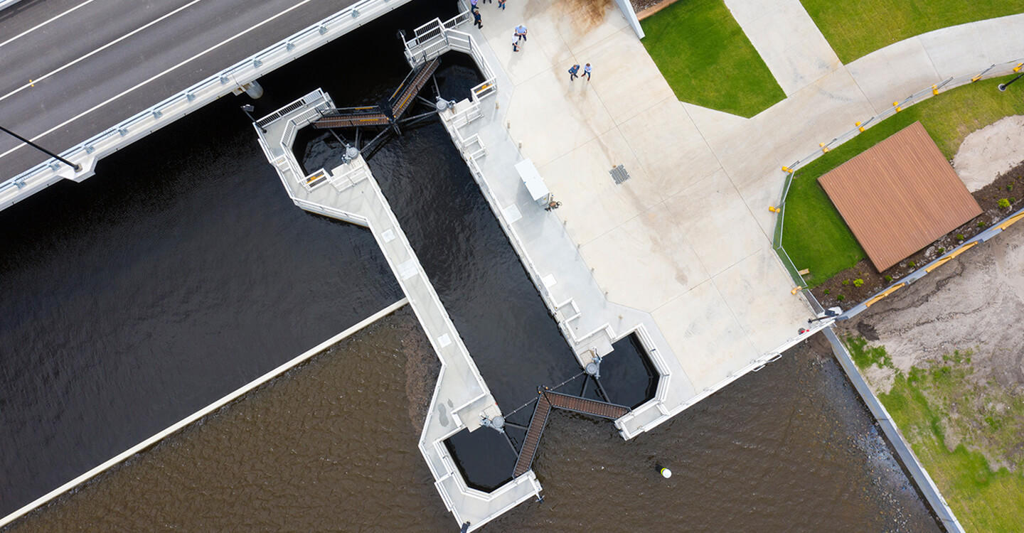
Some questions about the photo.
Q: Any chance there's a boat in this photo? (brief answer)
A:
No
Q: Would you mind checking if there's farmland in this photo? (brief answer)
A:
No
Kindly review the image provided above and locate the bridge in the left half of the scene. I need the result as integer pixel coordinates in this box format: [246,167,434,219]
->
[0,0,420,213]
